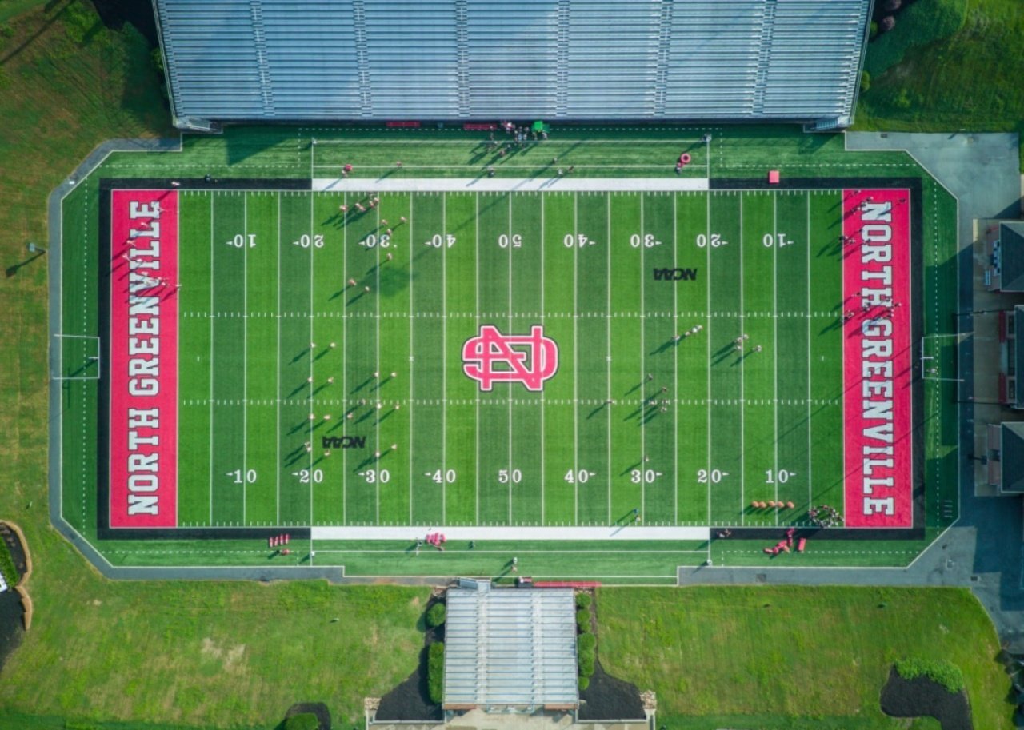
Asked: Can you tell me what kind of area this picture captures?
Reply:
sports ground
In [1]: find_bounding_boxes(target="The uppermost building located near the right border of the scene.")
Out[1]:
[987,221,1024,290]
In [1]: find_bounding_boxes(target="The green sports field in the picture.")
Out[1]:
[62,126,958,588]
